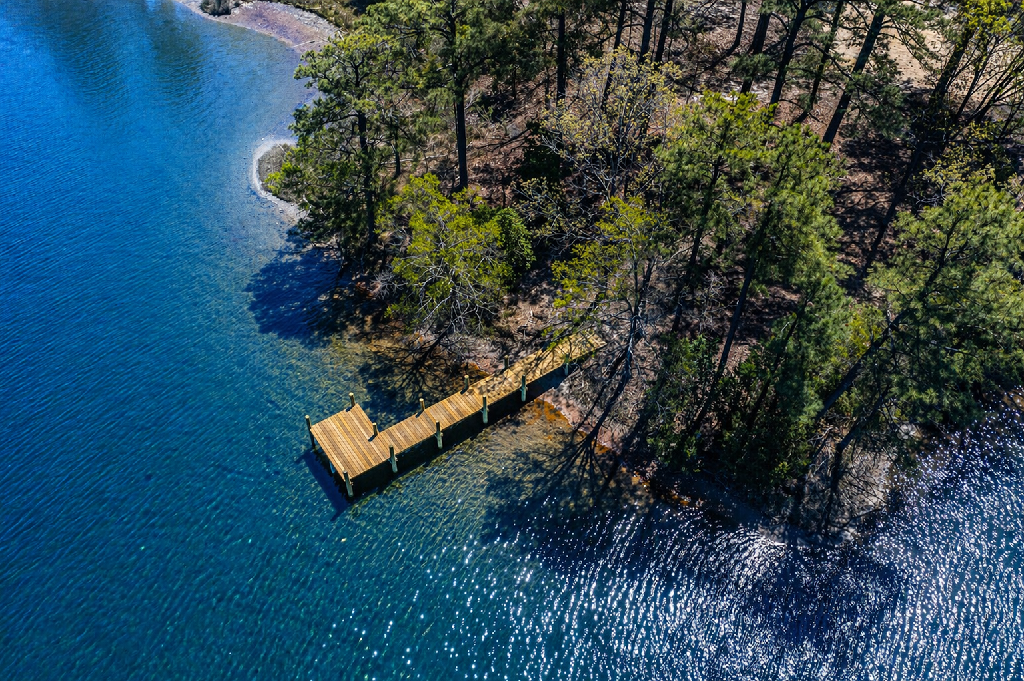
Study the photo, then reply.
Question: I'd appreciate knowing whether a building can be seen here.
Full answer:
No, the frame has no building in it.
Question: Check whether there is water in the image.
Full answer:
Yes, water can be seen from above here.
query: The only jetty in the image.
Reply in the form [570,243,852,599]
[311,328,607,502]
